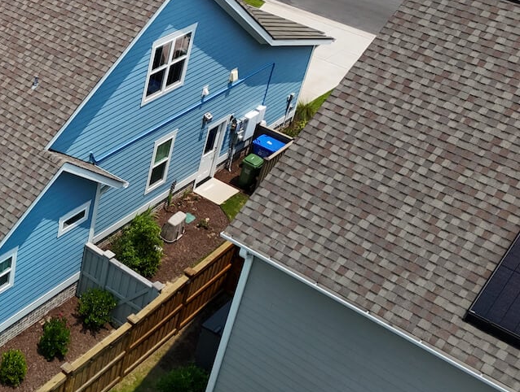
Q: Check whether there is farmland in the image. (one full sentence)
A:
No, no farmland is visible.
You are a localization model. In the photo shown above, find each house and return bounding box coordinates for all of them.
[204,0,520,392]
[0,0,335,345]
